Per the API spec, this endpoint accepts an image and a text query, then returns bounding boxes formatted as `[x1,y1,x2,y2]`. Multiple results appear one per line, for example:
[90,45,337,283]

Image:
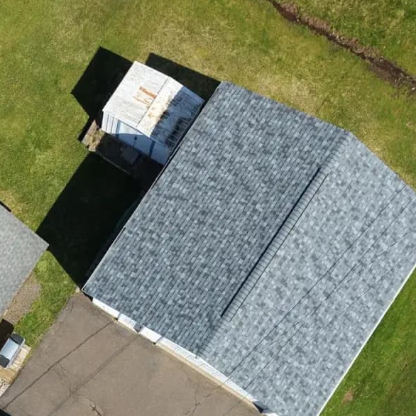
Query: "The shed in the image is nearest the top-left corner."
[101,62,200,166]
